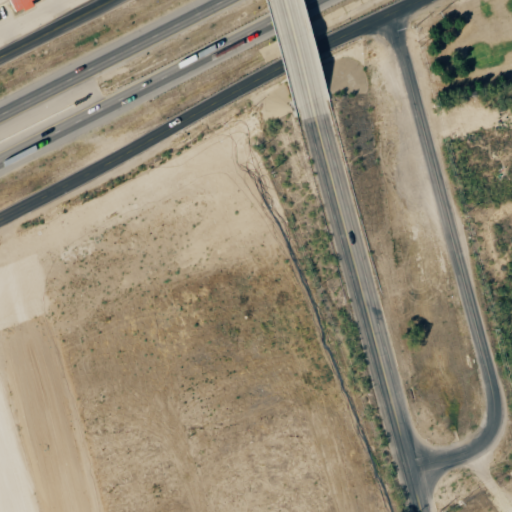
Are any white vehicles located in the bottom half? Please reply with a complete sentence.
No, in the bottom half there is no white vehicle.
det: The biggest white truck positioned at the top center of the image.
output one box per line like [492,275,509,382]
[178,39,228,69]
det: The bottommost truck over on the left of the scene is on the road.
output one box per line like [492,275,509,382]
[3,138,51,166]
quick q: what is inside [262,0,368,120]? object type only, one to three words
bridge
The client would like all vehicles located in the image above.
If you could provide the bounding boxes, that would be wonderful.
[75,64,86,72]
[0,6,7,18]
[214,30,262,58]
[178,39,228,69]
[88,104,102,114]
[122,94,137,104]
[42,128,54,136]
[142,80,152,88]
[3,138,51,166]
[168,118,182,127]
